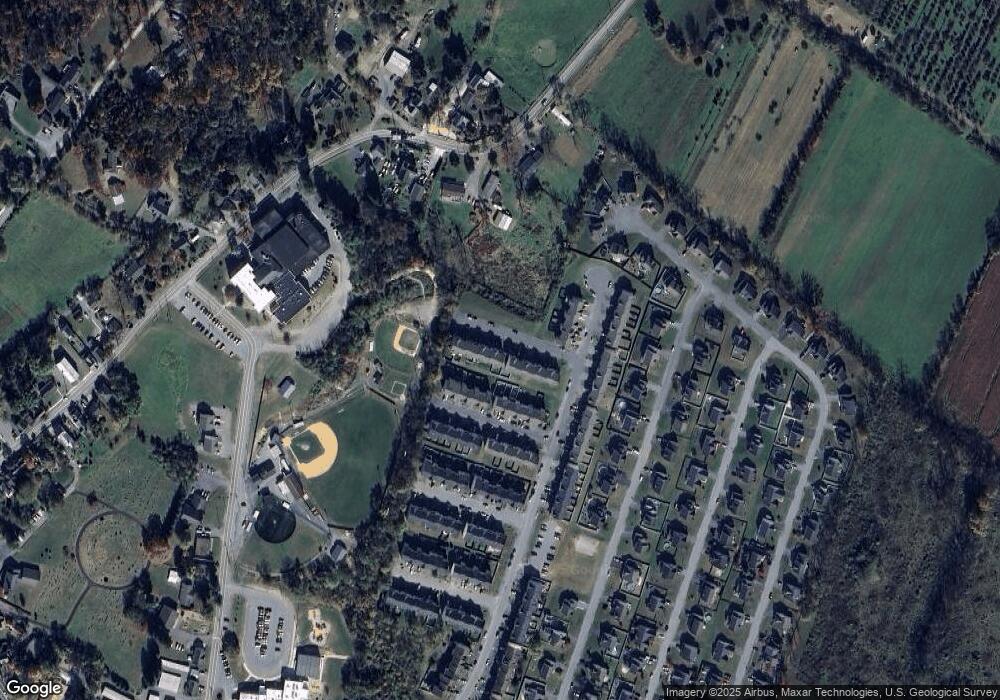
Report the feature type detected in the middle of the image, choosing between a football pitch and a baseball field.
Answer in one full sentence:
The one visible in the middle of the image is a baseball field.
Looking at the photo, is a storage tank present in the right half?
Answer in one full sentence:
No, no storage tank can be made out in the right half.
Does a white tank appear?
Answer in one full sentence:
No, no white tank can be seen from above.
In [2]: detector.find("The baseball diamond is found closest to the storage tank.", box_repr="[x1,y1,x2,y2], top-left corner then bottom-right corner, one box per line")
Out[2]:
[280,388,397,527]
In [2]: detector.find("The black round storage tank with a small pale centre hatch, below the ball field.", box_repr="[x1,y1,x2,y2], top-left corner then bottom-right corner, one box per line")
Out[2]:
[255,502,295,543]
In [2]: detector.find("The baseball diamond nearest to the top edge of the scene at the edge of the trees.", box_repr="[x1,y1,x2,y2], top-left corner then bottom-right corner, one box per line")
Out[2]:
[373,318,422,376]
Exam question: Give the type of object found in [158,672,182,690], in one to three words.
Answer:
building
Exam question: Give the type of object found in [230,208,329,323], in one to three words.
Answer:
building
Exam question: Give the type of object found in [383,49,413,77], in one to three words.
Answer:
barn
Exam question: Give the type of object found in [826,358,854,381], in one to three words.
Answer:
house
